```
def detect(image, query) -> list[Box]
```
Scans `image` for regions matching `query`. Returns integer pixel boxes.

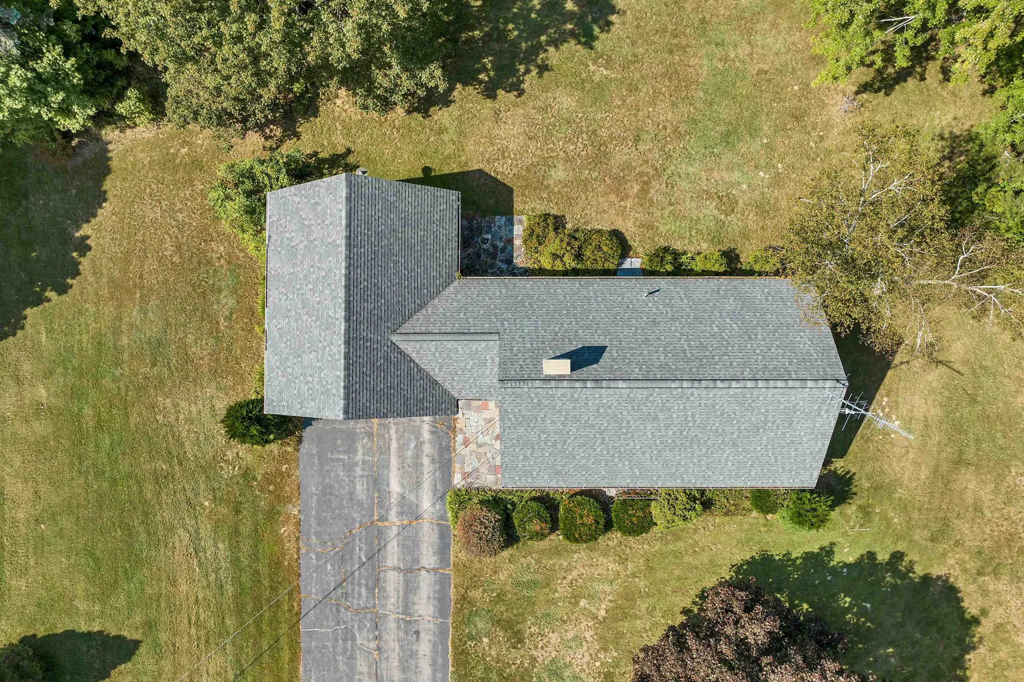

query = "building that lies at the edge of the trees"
[263,172,848,491]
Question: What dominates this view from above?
grass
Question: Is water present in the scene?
No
